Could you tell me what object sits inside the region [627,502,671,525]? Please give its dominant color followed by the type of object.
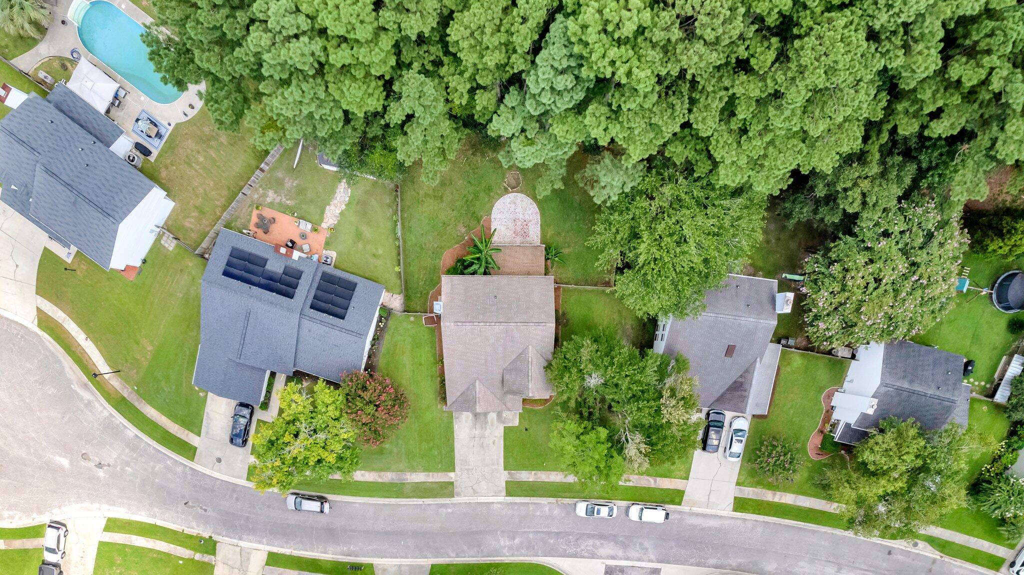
white car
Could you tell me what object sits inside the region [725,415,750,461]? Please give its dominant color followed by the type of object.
white car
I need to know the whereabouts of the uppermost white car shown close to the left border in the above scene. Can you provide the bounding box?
[43,519,70,561]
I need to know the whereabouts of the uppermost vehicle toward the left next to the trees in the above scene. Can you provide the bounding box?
[231,402,254,447]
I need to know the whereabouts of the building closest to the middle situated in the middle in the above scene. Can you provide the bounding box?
[433,244,555,412]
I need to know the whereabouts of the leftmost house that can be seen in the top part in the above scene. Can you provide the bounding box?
[0,82,177,280]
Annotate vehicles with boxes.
[575,498,617,519]
[231,402,254,447]
[43,519,70,561]
[285,492,331,514]
[627,502,671,525]
[725,415,750,461]
[703,409,728,454]
[40,563,65,575]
